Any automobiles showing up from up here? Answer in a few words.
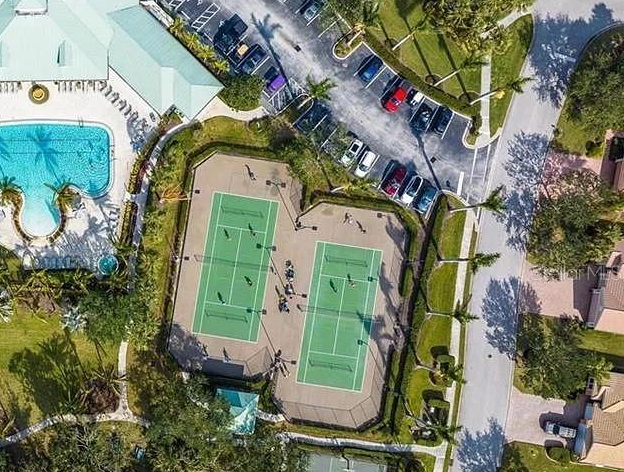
Yes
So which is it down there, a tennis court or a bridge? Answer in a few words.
tennis court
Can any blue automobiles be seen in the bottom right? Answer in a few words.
No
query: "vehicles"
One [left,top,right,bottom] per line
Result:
[339,138,365,166]
[410,103,435,132]
[381,83,406,114]
[300,0,323,22]
[235,39,251,58]
[384,166,408,194]
[399,174,424,202]
[408,91,426,108]
[216,13,247,48]
[542,420,578,438]
[353,149,378,177]
[241,47,266,75]
[265,72,288,97]
[356,58,382,84]
[430,107,454,135]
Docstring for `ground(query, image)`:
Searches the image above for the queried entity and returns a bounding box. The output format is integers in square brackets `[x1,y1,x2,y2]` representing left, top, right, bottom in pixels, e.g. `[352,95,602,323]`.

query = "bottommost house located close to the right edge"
[571,372,624,468]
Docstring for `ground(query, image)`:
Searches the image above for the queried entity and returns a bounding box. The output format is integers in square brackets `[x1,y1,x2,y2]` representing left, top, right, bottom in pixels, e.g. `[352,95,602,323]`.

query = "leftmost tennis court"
[168,153,302,380]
